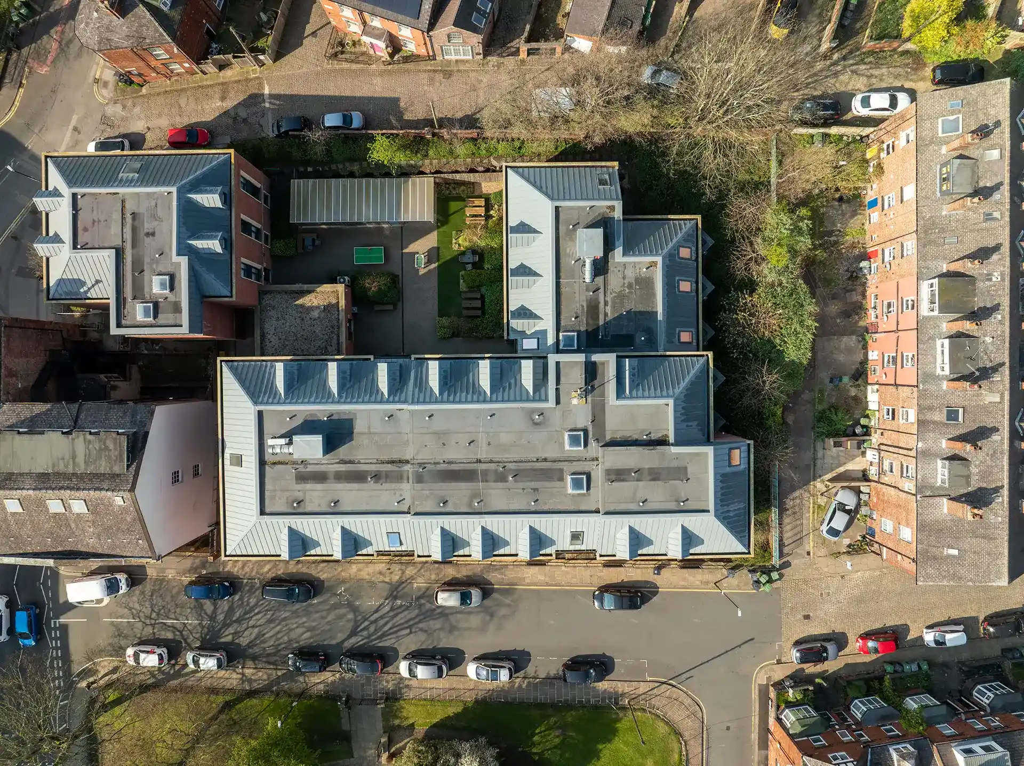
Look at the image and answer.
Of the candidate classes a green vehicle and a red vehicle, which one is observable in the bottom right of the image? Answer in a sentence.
You can see a red vehicle in the bottom right of the image.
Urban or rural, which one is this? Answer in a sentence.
From above, the setting appears urban.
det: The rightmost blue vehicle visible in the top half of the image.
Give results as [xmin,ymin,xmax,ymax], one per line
[320,108,366,130]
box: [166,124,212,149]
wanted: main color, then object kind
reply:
red car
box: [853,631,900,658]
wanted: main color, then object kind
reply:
red car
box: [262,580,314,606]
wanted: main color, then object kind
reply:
black car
